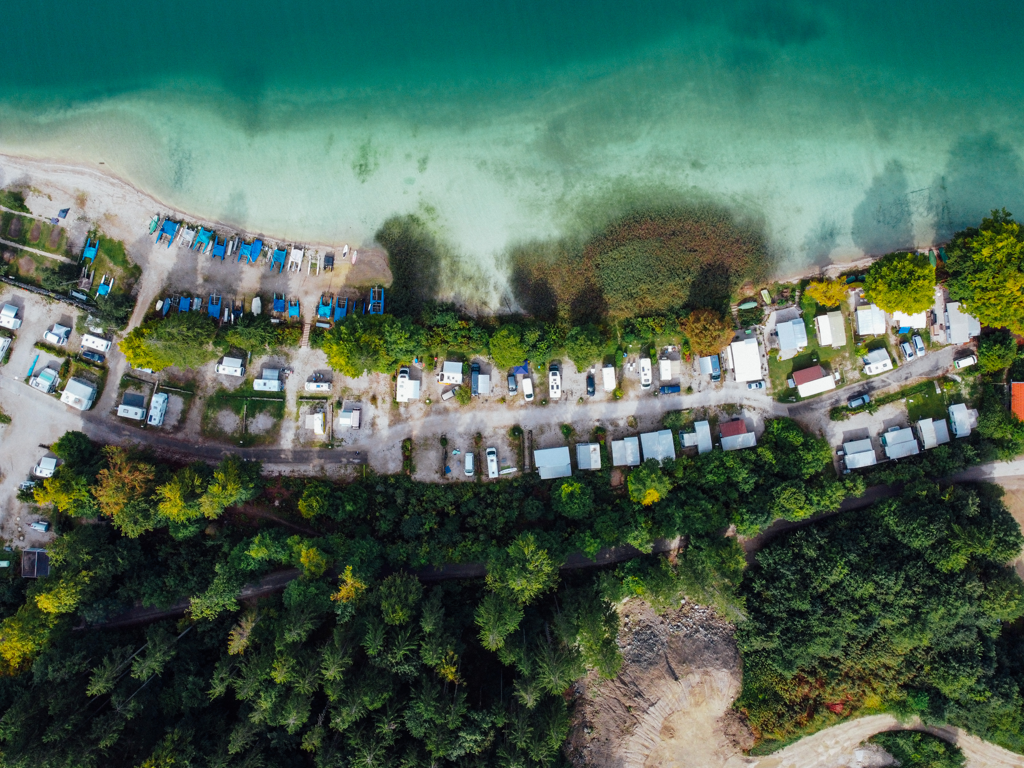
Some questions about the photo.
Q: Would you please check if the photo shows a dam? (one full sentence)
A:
No, I can't see a single dam in this photo.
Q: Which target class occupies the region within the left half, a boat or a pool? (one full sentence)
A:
The one visible within the left half is a boat.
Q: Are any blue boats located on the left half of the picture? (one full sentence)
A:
Yes, looking on the left half of the picture, one can make out a blue boat.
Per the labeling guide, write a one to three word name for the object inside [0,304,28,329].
camper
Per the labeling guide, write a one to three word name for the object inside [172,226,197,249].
boat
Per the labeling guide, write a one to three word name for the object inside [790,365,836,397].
house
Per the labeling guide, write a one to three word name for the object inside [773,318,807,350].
house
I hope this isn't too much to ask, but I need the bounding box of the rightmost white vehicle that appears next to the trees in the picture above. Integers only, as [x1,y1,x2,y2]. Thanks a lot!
[954,355,977,369]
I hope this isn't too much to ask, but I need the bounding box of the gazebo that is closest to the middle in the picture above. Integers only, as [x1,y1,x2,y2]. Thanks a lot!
[514,360,528,374]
